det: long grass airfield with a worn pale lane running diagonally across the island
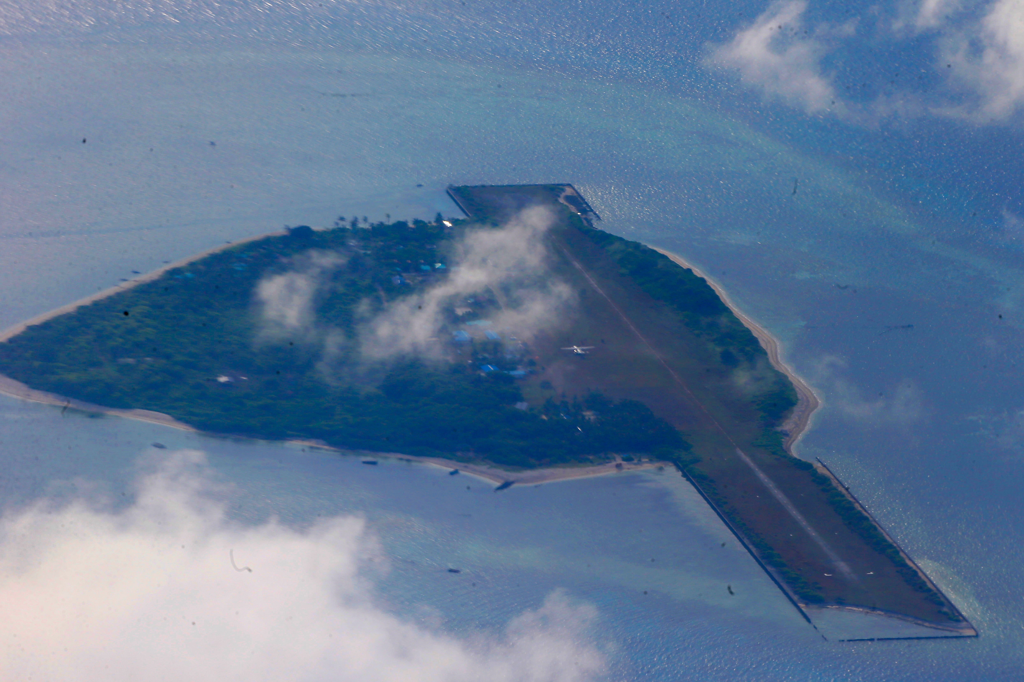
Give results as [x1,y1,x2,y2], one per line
[457,190,951,628]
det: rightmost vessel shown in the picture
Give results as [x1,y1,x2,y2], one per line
[494,476,517,491]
